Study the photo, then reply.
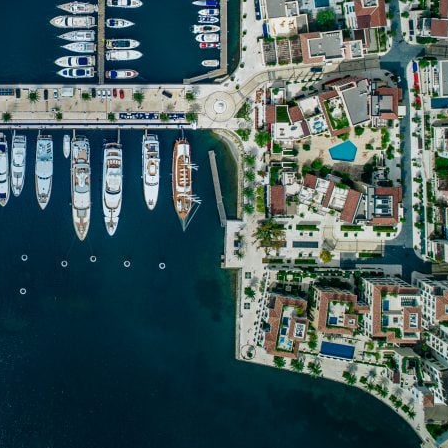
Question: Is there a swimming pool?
Yes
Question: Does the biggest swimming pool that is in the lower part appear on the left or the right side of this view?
right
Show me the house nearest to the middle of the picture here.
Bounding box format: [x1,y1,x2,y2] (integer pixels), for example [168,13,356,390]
[263,170,301,216]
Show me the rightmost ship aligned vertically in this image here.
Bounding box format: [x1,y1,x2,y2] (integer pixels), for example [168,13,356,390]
[173,131,200,232]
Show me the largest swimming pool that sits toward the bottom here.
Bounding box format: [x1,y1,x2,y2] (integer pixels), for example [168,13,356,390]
[319,340,356,361]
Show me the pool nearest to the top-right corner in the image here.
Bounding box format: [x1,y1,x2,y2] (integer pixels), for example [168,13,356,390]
[430,97,448,110]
